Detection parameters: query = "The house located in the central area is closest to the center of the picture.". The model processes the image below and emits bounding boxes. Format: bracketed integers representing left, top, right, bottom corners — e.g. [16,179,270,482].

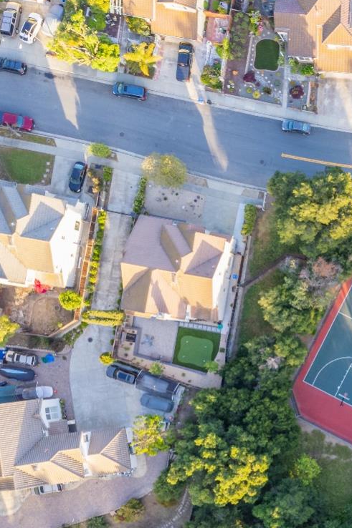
[121,216,241,323]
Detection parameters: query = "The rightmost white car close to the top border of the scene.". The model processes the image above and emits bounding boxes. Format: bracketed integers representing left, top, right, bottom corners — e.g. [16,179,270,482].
[21,12,42,44]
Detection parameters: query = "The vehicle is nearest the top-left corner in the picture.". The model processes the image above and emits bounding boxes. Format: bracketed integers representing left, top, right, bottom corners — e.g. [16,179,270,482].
[0,2,22,37]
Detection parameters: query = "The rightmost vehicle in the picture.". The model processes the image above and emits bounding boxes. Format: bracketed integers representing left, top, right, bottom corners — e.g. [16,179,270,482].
[282,119,312,134]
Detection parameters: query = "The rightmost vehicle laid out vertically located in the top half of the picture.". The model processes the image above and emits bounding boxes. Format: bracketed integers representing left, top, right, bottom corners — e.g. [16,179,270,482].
[177,42,193,81]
